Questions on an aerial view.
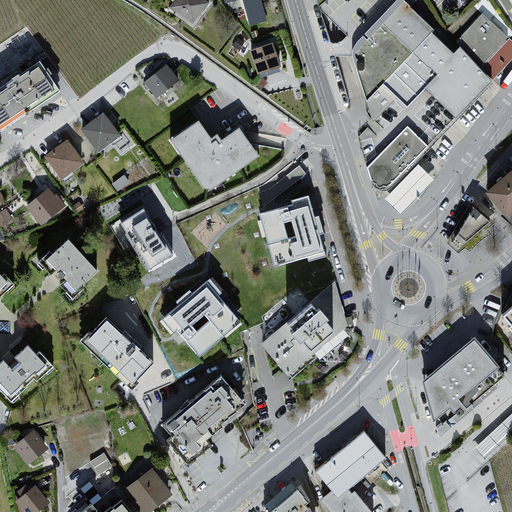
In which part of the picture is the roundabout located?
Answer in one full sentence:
The roundabout appears toward the right of the photo.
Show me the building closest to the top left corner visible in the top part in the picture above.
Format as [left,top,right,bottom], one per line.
[0,62,60,132]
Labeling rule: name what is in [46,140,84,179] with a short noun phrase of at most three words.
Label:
house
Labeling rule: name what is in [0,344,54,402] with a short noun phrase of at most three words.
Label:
building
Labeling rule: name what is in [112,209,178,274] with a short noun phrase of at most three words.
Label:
building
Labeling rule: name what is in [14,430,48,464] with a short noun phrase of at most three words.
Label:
house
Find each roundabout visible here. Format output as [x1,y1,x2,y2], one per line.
[371,250,446,325]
